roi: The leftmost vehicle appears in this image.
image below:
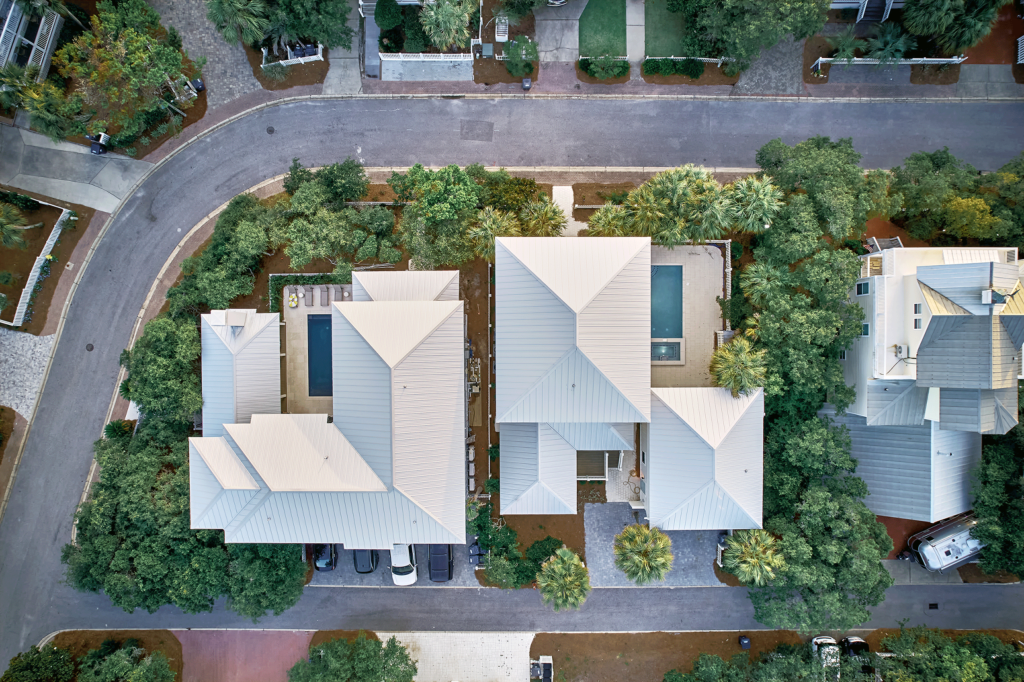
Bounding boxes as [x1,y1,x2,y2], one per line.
[310,544,337,572]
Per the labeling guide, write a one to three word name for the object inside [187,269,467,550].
house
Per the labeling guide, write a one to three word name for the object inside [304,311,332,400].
swimming pool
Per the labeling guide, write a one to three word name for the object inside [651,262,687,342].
swimming pool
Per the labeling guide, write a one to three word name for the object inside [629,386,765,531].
building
